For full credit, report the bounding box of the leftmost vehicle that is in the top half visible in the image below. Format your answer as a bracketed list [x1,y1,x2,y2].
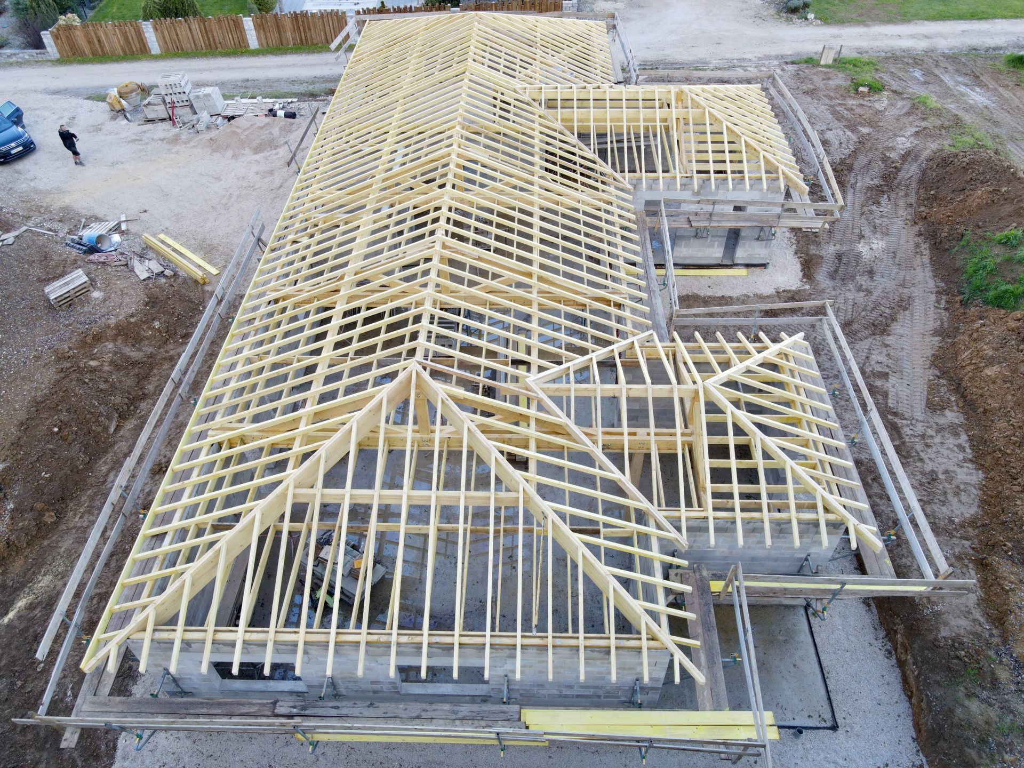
[0,91,35,160]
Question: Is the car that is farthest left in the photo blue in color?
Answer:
Yes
